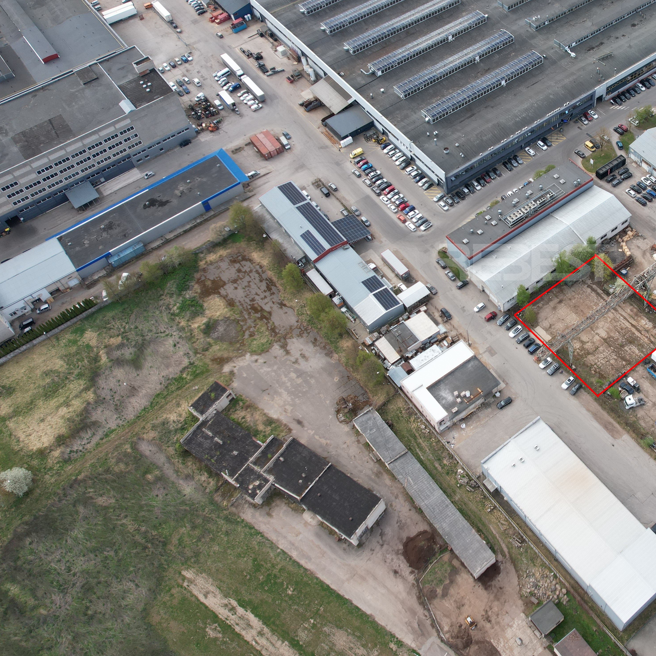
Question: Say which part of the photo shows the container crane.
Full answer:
The container crane sits in the right section of the image.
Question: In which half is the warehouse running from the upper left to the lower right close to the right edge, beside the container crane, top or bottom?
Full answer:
Seen from above, the warehouse running from the upper left to the lower right close to the right edge, beside the container crane lies in the bottom half of the view.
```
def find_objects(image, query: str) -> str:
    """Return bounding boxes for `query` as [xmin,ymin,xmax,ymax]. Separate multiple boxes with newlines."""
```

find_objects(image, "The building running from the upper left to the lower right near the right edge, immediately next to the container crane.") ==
[480,415,656,633]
